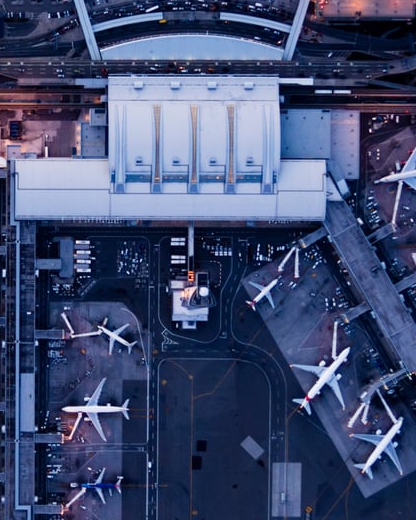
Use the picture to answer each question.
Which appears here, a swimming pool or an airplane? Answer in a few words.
airplane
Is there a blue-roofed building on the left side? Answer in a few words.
Yes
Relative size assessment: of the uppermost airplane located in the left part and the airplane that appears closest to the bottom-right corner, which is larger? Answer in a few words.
the airplane that appears closest to the bottom-right corner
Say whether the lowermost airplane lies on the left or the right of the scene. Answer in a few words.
left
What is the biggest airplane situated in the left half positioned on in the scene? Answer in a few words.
apron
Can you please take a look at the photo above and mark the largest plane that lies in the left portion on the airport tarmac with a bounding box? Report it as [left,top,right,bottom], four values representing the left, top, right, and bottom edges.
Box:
[62,377,129,442]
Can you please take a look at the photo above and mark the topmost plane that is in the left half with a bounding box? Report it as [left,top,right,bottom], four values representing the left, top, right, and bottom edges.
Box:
[98,325,136,357]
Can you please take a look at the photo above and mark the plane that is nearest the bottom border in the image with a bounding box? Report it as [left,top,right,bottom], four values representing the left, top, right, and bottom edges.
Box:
[81,467,121,505]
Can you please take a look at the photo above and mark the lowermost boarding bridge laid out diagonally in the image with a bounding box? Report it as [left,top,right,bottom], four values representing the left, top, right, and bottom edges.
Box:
[65,487,87,510]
